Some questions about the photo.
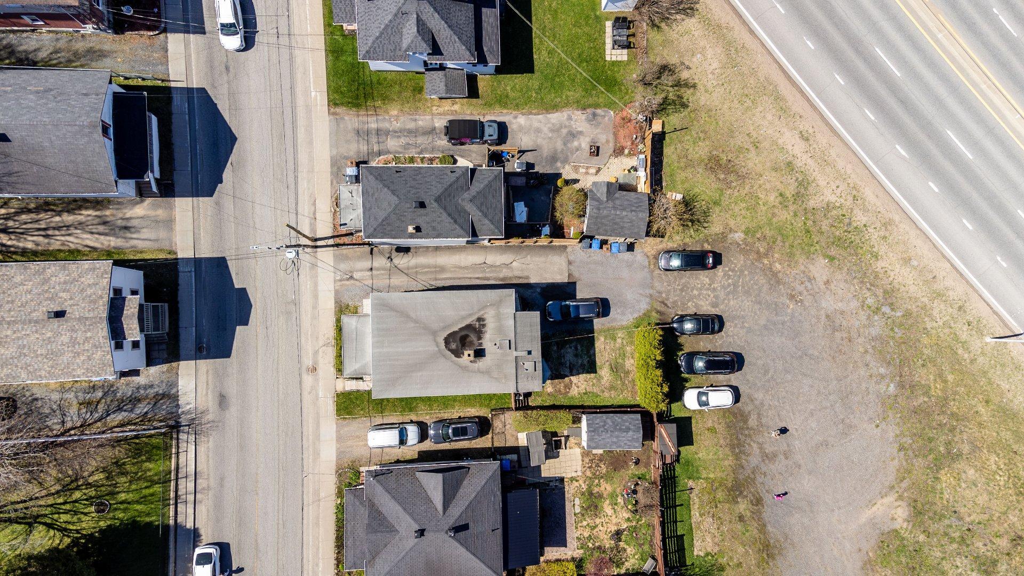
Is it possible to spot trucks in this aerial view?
No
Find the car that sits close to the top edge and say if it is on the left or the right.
left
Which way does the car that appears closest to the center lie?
from side to side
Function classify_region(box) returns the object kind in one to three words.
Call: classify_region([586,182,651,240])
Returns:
shed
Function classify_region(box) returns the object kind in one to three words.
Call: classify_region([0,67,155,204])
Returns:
house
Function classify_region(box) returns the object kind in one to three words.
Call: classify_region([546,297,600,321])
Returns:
car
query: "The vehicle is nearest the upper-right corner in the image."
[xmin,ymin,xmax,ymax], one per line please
[659,248,716,273]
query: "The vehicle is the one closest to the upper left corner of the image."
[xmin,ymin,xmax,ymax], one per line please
[217,0,245,53]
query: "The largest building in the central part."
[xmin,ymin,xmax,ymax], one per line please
[341,289,551,399]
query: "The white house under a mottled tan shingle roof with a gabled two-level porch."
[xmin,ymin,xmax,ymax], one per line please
[0,259,159,380]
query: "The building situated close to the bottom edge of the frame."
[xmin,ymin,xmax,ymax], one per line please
[345,457,541,576]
